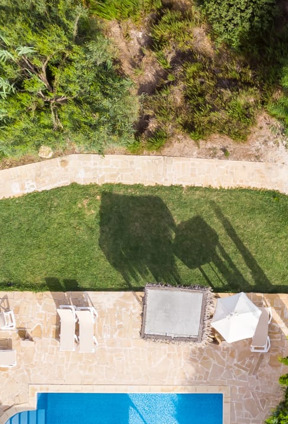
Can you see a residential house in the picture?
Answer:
No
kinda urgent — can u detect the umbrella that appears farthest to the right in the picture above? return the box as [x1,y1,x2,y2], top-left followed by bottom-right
[215,292,266,344]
